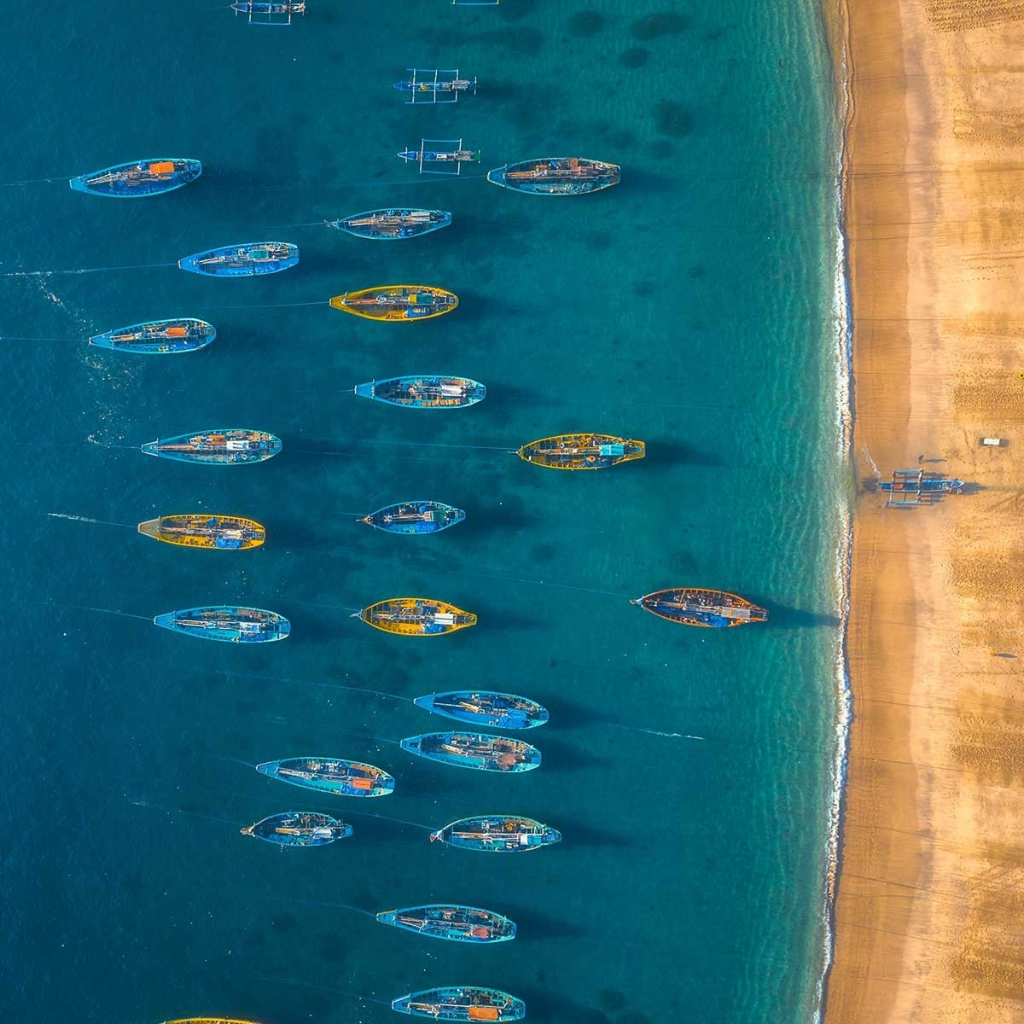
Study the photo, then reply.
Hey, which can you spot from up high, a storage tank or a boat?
boat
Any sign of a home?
No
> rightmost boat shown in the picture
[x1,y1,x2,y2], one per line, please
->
[877,469,964,504]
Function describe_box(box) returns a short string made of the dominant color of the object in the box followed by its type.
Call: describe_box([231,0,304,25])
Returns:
blue boat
